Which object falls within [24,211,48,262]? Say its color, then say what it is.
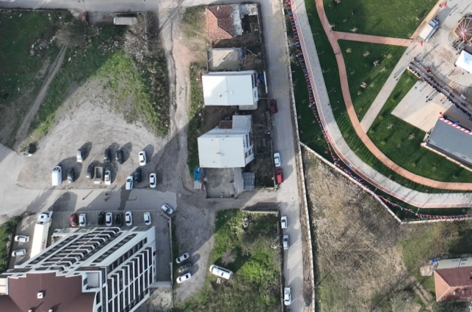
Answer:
white truck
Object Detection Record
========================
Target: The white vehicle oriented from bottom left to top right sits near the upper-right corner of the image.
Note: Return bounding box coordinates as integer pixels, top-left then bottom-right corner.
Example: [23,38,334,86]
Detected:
[421,22,437,41]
